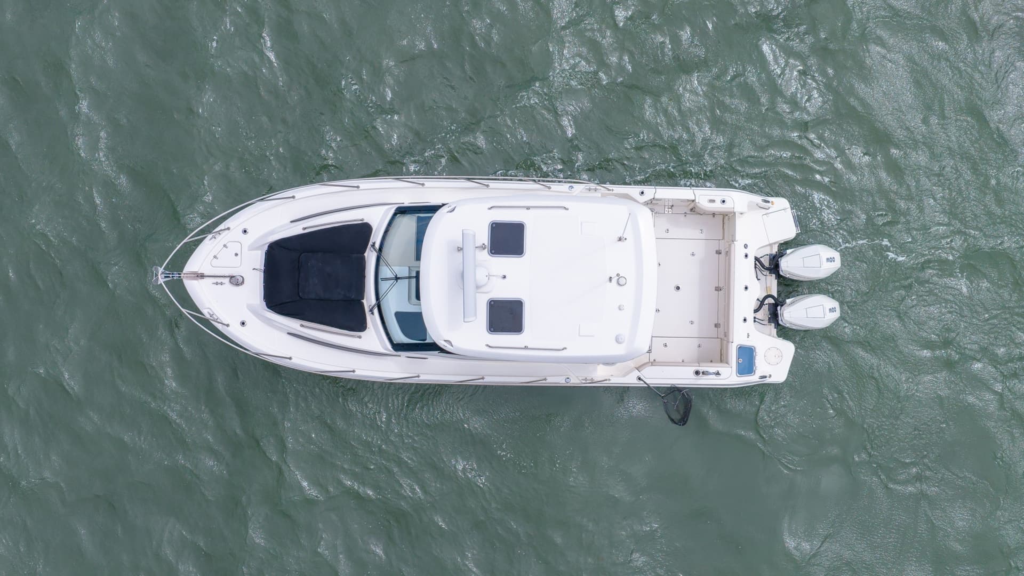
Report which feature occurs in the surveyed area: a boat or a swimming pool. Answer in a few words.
boat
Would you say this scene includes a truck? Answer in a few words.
No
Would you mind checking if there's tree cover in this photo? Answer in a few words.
No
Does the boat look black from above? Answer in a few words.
No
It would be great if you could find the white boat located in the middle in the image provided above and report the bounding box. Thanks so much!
[158,176,841,387]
